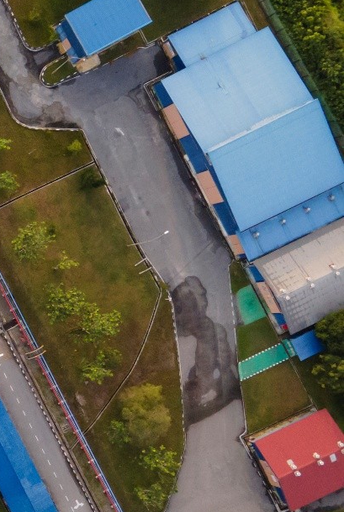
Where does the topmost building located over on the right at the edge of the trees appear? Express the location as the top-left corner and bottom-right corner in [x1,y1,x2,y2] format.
[144,0,344,265]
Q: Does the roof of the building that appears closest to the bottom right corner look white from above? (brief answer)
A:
No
